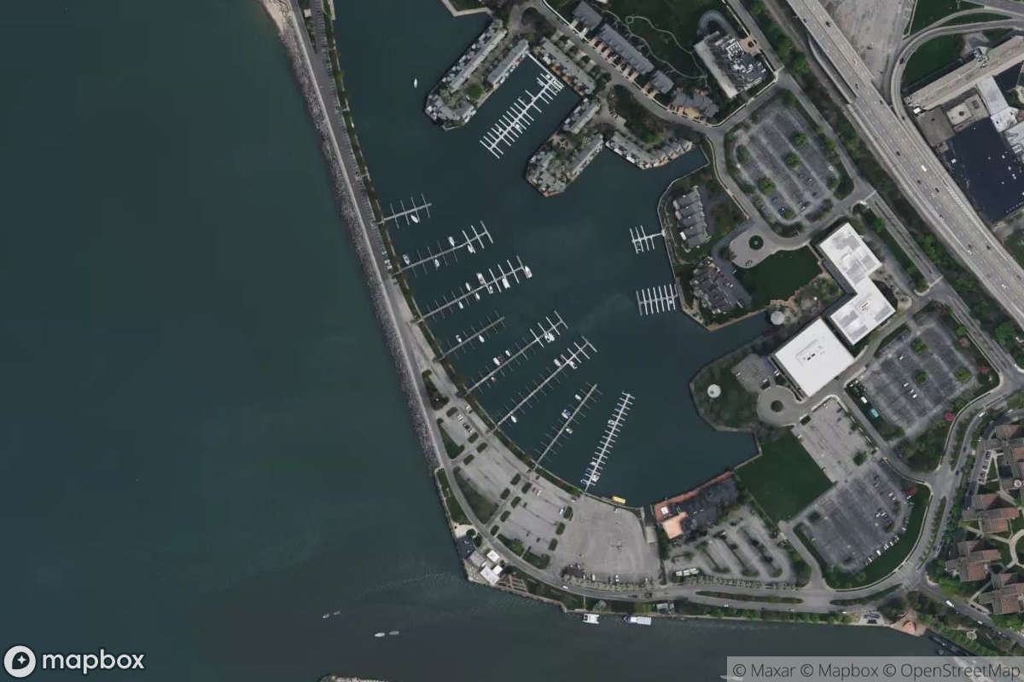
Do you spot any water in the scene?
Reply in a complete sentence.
Yes, there's water in this view.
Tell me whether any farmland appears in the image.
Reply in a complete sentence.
No, farmland can't be seen anywhere here.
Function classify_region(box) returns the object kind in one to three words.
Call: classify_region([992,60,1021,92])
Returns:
shed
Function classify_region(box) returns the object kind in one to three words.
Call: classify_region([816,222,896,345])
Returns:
building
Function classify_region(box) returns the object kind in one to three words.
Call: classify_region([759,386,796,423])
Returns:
roundabout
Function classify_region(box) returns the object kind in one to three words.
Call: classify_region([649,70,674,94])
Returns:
house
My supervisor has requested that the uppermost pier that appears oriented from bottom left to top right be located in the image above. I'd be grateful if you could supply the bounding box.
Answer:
[480,59,564,158]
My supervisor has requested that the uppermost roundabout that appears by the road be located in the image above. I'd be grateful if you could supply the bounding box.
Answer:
[730,222,805,267]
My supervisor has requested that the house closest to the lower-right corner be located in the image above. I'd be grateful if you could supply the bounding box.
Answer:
[977,574,1024,613]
